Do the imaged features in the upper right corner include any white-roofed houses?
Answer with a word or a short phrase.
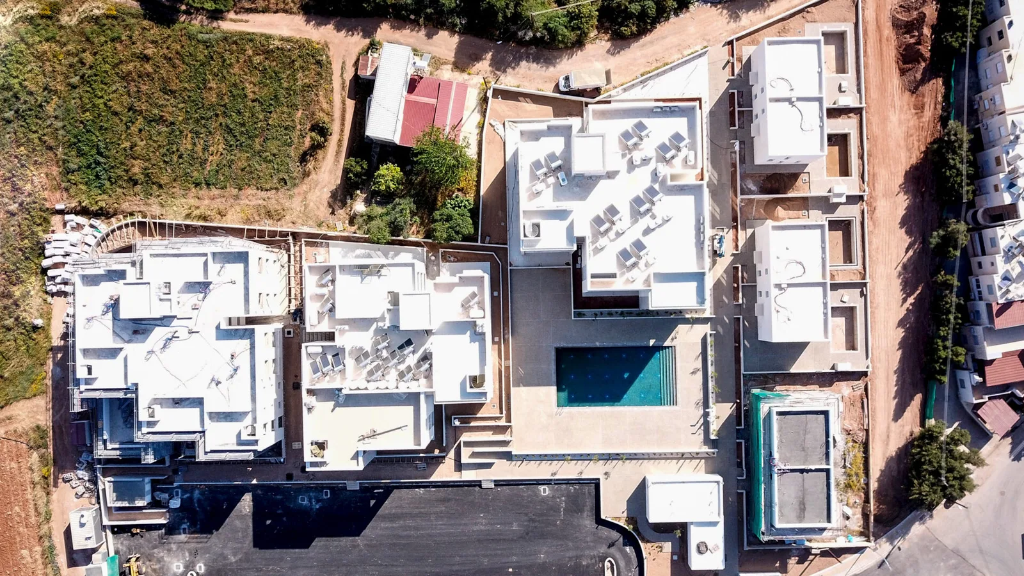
Yes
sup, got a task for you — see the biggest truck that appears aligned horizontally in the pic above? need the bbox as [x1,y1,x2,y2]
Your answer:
[557,71,606,94]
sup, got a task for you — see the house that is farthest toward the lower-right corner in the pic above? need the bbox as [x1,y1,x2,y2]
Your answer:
[967,398,1020,437]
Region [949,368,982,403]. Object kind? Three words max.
house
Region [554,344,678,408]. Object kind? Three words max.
swimming pool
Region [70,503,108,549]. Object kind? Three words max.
building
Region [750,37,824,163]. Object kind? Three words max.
house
